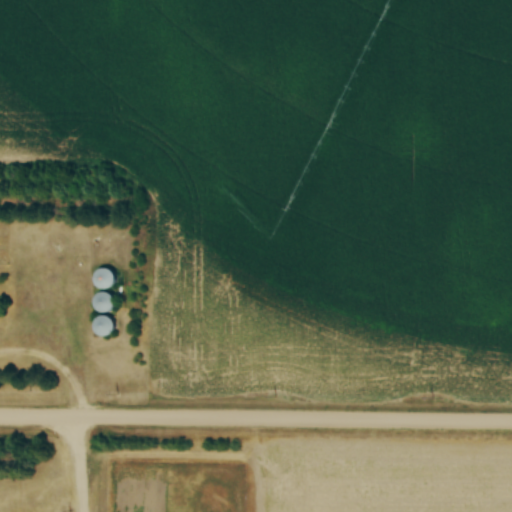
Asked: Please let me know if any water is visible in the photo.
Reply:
No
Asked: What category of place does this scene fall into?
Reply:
farmland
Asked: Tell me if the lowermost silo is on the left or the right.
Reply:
left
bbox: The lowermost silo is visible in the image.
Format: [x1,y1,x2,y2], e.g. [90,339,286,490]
[92,314,116,336]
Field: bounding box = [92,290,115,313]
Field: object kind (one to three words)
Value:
silo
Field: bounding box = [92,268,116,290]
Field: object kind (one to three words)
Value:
silo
